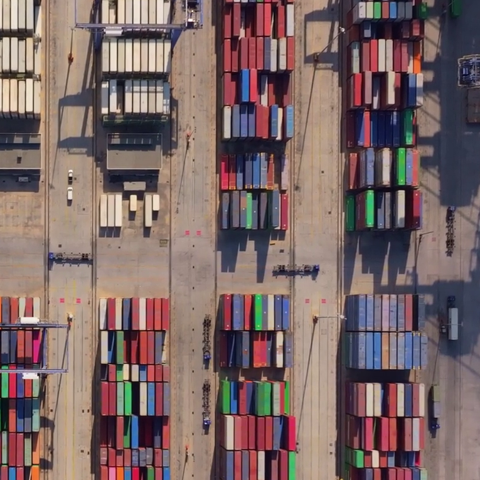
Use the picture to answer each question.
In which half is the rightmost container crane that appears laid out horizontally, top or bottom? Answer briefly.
top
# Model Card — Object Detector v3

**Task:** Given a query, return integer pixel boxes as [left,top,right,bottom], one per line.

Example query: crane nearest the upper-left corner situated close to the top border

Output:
[75,0,207,54]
